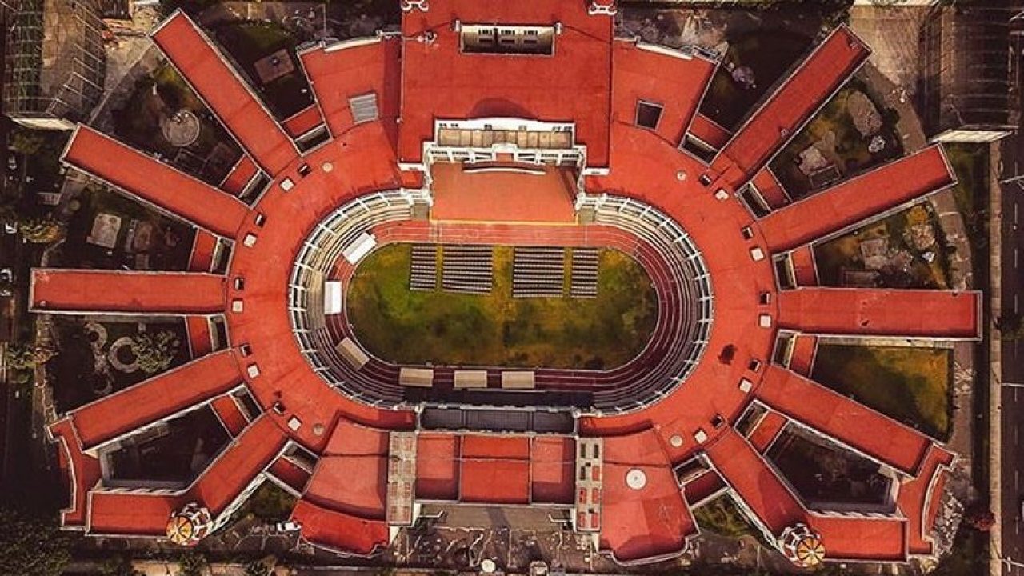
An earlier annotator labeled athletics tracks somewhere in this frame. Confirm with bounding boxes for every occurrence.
[323,217,683,396]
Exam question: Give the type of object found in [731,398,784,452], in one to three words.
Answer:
building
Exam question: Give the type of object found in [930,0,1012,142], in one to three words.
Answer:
shed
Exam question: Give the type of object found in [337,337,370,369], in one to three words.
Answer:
tent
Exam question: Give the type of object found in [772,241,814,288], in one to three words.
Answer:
building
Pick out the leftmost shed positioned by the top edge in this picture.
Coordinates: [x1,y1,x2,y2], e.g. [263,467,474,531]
[2,0,79,128]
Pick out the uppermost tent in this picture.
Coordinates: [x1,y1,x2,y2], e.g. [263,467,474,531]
[344,232,376,264]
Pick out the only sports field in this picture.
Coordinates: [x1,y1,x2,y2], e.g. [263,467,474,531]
[348,242,657,371]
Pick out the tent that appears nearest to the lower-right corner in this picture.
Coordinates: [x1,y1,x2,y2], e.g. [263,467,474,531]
[502,370,534,389]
